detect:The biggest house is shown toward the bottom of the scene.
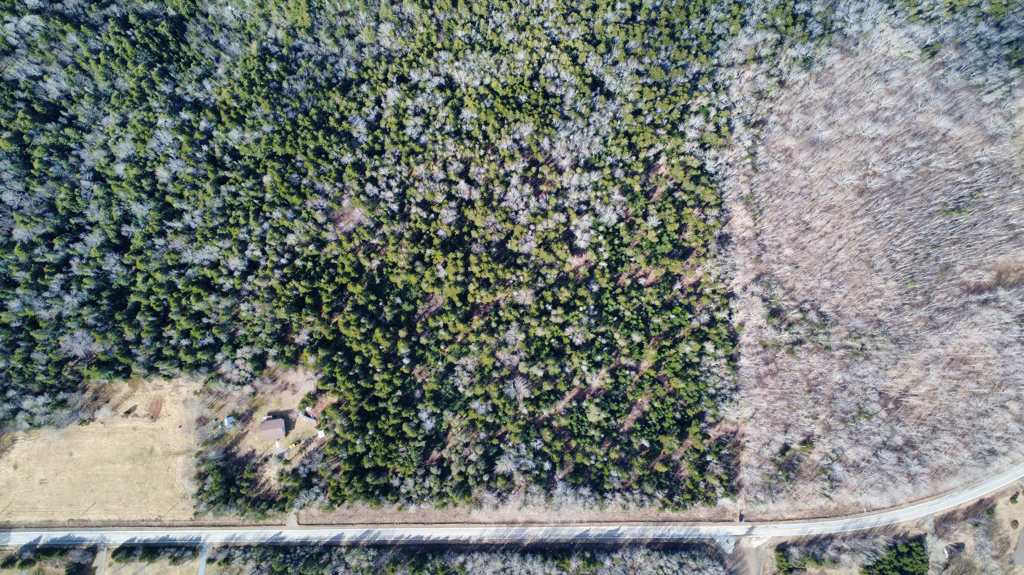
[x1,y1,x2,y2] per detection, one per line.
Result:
[261,416,286,441]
